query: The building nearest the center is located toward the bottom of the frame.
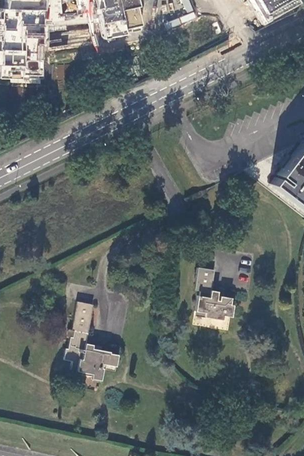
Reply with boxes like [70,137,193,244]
[196,268,214,291]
